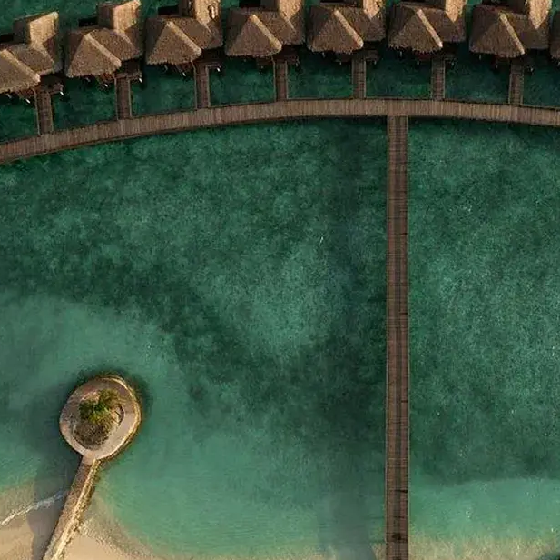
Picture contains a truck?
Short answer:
No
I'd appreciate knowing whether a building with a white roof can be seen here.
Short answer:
No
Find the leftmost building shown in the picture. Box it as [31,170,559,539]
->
[0,11,72,111]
